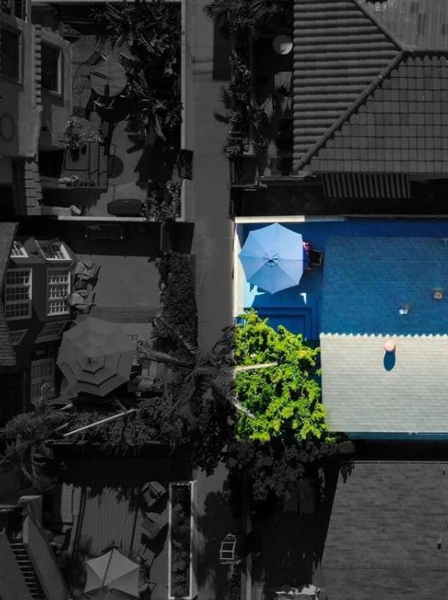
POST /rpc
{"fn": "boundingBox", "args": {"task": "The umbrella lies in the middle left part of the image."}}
[58,316,139,398]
